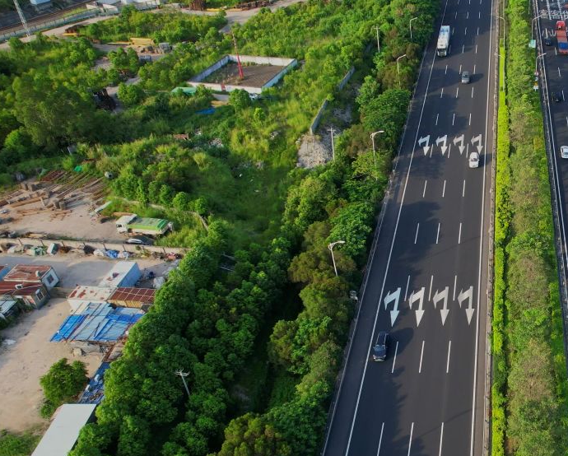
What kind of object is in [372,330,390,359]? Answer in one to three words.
car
